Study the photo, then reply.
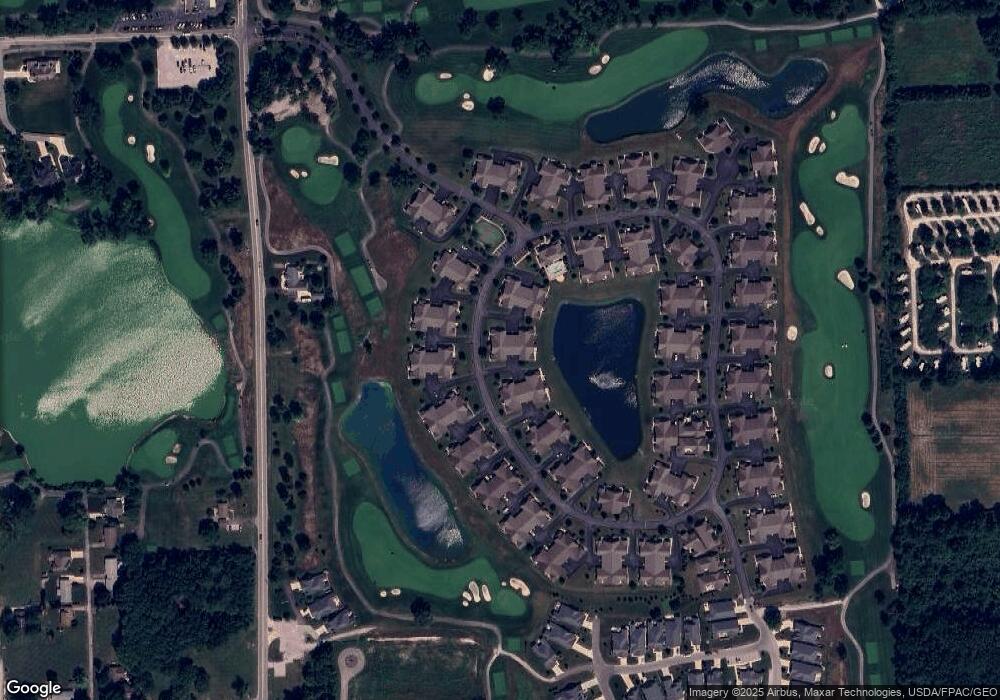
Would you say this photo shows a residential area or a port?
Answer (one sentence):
This image shows a residential area.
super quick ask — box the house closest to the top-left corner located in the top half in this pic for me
[27,61,56,78]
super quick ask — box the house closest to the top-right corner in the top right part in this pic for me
[752,143,776,177]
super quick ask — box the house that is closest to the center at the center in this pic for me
[488,328,538,360]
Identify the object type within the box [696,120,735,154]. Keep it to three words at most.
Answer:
house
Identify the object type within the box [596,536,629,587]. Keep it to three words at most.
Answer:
house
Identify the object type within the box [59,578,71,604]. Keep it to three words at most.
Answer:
barn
